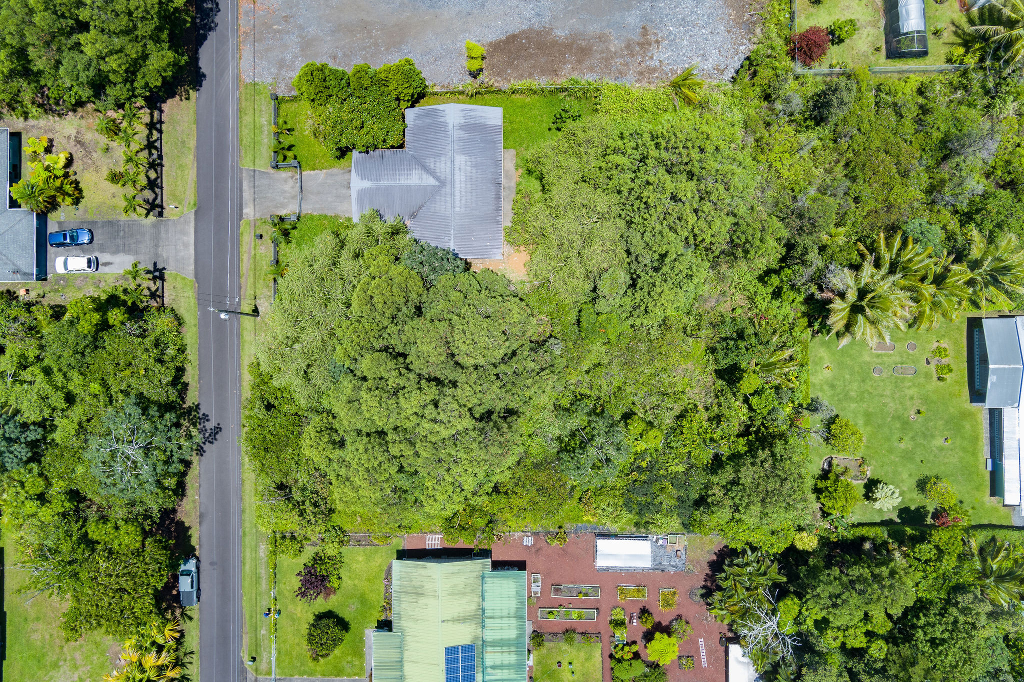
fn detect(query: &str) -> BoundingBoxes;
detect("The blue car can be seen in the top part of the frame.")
[48,226,96,249]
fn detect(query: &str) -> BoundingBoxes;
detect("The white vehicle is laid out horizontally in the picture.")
[57,254,101,274]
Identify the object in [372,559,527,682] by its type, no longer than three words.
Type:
house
